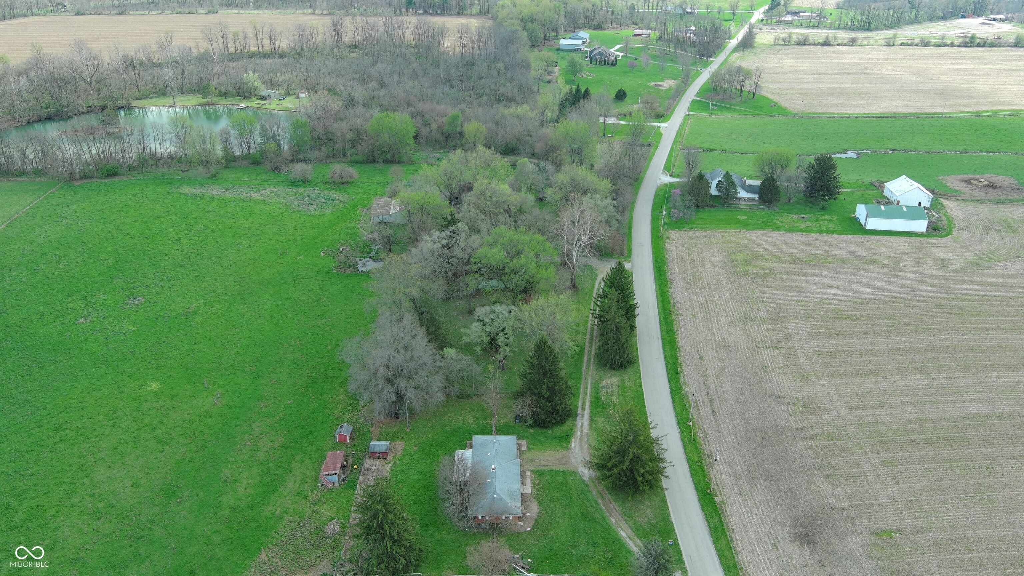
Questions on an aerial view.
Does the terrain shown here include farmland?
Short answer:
Yes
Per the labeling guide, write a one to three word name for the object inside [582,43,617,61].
house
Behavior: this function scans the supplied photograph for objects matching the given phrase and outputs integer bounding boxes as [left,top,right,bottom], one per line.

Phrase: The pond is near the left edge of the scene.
[0,105,308,164]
